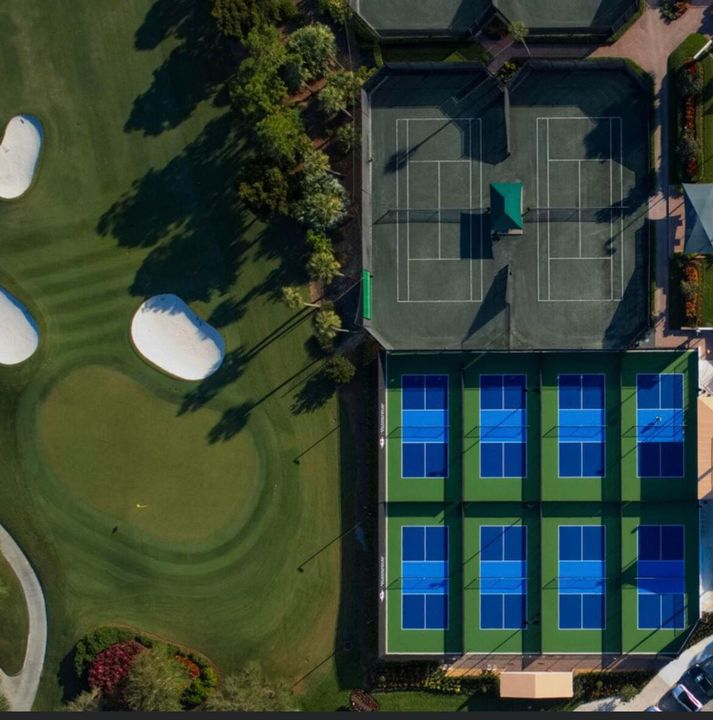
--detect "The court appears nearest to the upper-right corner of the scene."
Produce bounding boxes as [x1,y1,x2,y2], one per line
[494,0,635,26]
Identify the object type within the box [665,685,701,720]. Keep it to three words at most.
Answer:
car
